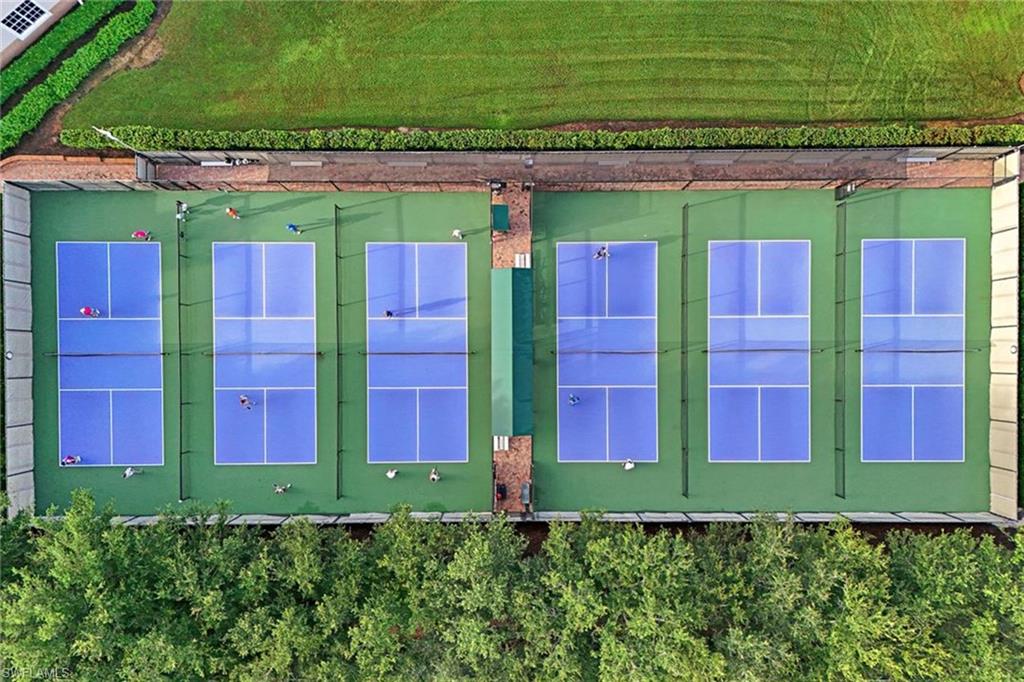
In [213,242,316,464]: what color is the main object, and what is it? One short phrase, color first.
blue sports court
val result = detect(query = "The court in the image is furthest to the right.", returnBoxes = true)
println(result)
[862,239,965,462]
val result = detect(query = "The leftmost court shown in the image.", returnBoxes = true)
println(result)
[57,242,163,466]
